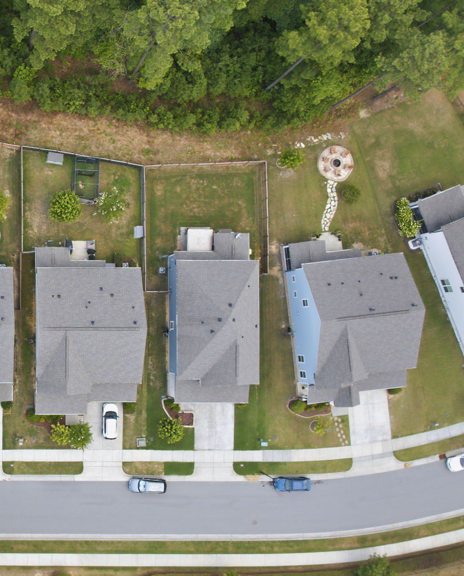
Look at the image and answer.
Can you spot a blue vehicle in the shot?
Yes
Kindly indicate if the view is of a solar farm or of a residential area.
residential area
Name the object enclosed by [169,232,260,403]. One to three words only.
house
